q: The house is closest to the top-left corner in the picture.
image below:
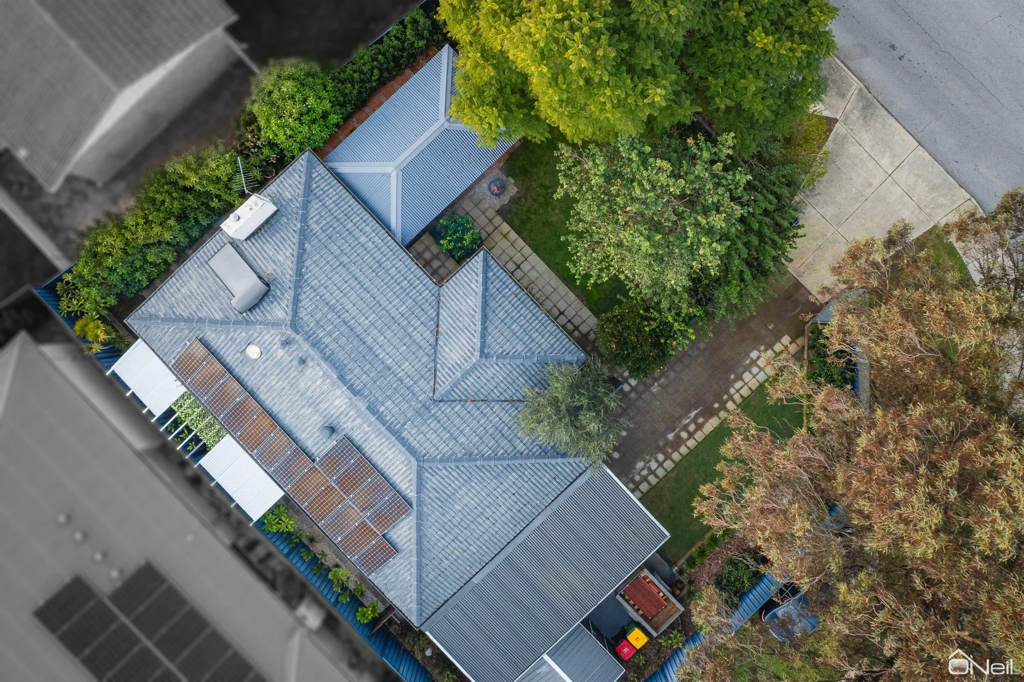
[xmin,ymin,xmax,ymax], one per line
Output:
[0,0,248,194]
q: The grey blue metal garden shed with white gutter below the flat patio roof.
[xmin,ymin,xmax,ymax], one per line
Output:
[519,618,627,682]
